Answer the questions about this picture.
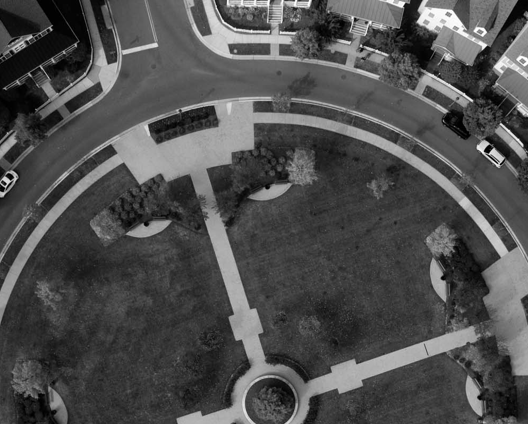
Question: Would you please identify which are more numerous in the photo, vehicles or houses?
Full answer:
The image shows a greater number of houses than of vehicles.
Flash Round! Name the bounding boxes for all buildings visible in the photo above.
[416,0,522,70]
[326,0,412,40]
[226,0,310,23]
[491,21,528,117]
[0,0,81,92]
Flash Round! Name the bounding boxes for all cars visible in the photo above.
[475,138,510,170]
[439,111,475,141]
[0,165,22,202]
